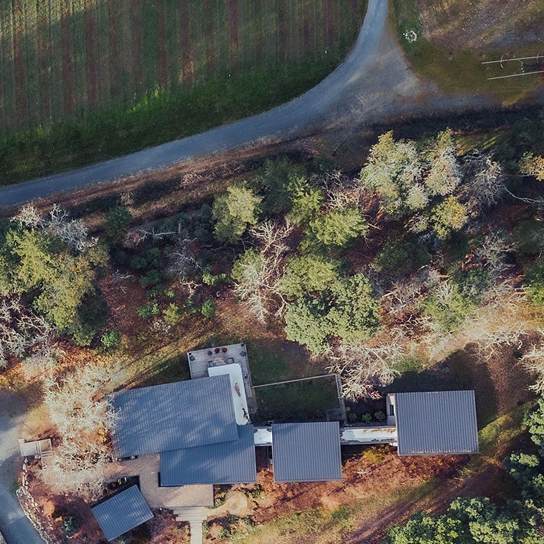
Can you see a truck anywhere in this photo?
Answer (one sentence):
No, the photo shows no truck.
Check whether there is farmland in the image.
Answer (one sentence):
Yes, some farmland is visible.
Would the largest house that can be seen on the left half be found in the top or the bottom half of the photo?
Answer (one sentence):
You can find the largest house that can be seen on the left half in the bottom half.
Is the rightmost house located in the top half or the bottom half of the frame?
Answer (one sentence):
It is in the bottom half that the rightmost house appears.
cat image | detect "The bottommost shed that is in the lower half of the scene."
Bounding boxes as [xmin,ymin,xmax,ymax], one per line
[91,484,153,542]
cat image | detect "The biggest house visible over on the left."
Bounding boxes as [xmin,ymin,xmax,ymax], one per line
[111,362,256,486]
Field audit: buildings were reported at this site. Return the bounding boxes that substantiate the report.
[269,421,342,483]
[388,390,478,457]
[111,362,256,486]
[91,484,153,542]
